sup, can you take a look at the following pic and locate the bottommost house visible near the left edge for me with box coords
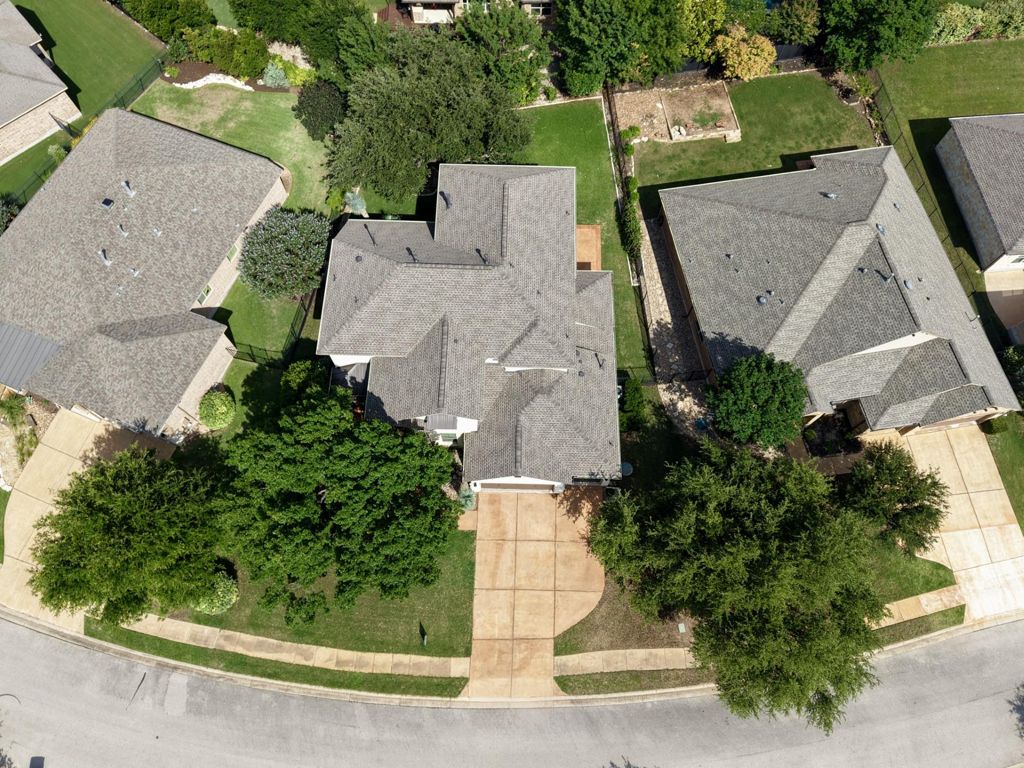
[0,105,288,441]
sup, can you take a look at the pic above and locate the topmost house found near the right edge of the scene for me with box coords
[935,112,1024,272]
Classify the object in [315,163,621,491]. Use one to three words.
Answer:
house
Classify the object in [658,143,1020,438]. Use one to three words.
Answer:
house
